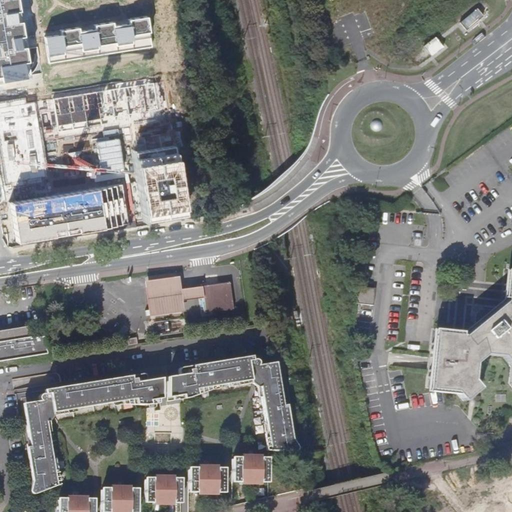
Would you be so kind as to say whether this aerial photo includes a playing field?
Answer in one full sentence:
No, there's no playing field here.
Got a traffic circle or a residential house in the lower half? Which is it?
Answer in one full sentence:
What appears in the lower half is a residential house.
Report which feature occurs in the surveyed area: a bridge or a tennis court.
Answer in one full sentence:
There is a bridge in the scene.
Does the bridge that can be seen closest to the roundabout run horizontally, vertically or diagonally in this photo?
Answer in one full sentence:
From this overhead view, the bridge that can be seen closest to the roundabout appears to run diagonally.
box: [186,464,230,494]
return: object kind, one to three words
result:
house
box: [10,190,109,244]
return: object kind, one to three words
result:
building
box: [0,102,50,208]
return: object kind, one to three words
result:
building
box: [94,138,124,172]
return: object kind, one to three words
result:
shed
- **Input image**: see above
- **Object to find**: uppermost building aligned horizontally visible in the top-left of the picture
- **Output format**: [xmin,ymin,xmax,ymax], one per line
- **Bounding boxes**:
[42,18,154,63]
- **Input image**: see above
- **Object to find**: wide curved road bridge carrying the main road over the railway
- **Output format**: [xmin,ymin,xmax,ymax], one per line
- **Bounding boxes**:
[246,94,331,244]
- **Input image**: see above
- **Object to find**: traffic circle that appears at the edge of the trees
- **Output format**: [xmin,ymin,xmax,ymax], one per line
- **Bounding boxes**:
[330,80,436,186]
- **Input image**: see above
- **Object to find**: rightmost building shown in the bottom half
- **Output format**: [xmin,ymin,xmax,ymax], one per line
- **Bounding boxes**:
[422,262,512,402]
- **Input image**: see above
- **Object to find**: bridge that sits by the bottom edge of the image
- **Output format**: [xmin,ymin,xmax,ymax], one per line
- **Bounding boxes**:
[300,472,388,503]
